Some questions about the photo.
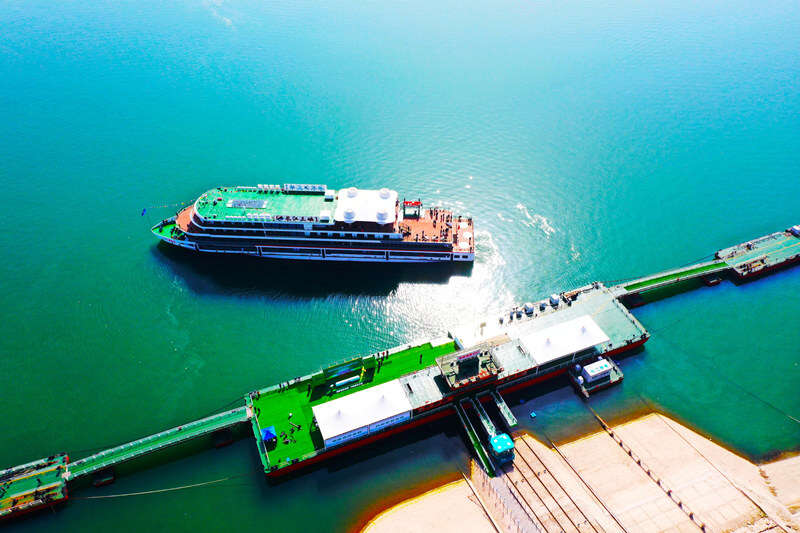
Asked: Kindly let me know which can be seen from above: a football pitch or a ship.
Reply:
ship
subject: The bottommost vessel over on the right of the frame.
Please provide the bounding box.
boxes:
[569,357,627,406]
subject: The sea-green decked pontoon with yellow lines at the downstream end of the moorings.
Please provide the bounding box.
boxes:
[714,227,800,281]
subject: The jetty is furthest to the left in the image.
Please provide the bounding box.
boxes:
[0,453,70,518]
